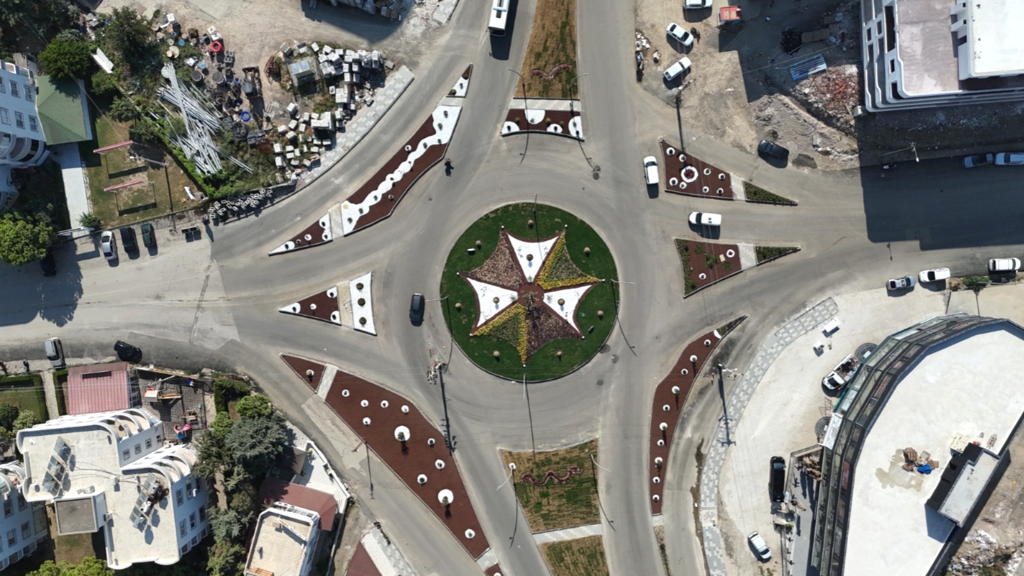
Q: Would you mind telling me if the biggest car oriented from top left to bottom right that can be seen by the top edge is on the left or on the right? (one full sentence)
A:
The biggest car oriented from top left to bottom right that can be seen by the top edge is on the right side of the image.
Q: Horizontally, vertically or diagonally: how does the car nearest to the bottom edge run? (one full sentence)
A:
The car nearest to the bottom edge runs diagonally in the image.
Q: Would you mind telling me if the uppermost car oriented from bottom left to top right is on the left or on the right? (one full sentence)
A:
The uppermost car oriented from bottom left to top right is on the right side of the image.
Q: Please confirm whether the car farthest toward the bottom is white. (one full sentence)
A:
Yes, the car farthest toward the bottom appears white.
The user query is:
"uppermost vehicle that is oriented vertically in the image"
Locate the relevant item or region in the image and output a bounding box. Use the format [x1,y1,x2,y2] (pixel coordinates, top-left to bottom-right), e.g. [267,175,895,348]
[484,0,509,40]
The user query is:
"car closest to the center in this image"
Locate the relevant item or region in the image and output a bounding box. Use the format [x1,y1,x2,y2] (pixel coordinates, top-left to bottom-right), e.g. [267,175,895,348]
[409,292,425,325]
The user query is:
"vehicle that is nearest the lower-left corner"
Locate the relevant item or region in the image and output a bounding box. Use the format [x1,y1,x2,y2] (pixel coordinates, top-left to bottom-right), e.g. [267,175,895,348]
[45,334,67,367]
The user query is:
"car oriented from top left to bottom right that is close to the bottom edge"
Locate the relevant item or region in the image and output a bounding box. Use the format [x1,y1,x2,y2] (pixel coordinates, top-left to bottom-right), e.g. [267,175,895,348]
[746,532,771,561]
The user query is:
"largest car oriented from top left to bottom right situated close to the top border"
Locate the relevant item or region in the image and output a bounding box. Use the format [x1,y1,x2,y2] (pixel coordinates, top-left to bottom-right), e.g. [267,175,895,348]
[663,22,695,49]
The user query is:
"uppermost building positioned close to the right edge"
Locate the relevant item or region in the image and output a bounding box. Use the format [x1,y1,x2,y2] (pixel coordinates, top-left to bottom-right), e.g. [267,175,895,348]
[856,0,1024,116]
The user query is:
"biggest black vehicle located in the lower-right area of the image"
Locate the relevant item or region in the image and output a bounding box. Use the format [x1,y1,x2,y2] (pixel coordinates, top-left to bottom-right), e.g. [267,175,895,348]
[769,457,787,502]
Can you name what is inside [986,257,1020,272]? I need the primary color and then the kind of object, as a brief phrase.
white car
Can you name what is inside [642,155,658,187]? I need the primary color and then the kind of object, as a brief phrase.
white vehicle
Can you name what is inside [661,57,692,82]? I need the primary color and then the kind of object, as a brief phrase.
white car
